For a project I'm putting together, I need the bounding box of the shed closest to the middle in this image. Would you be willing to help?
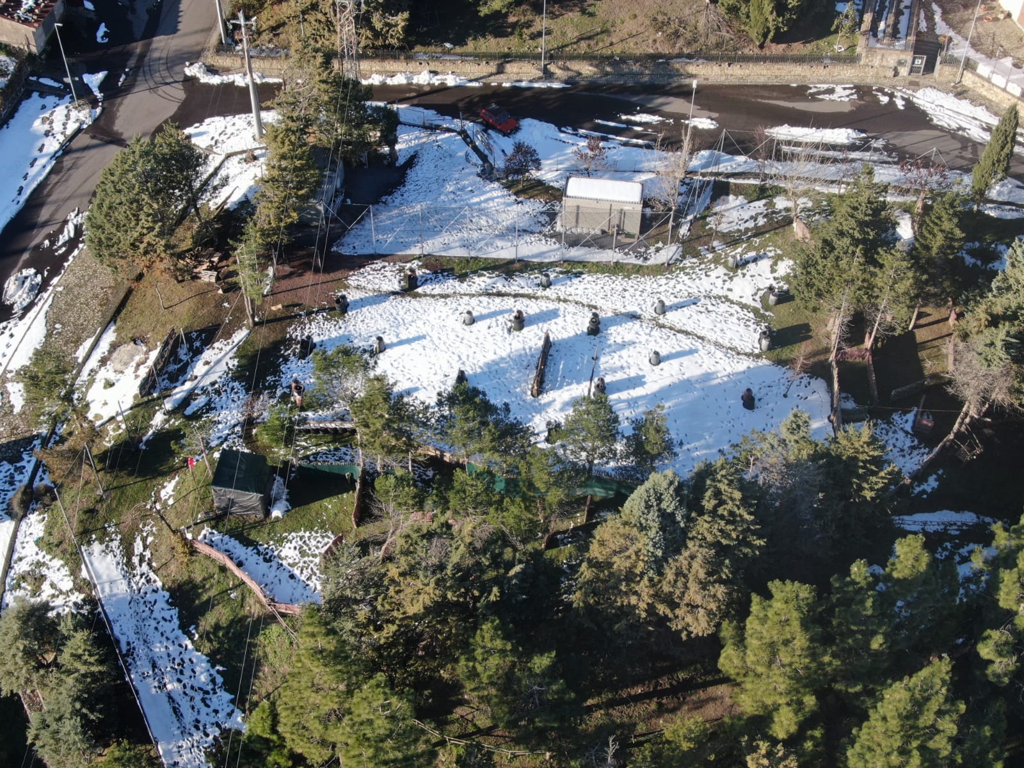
[556,175,647,241]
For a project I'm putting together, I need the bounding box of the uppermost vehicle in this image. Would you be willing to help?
[474,98,523,134]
